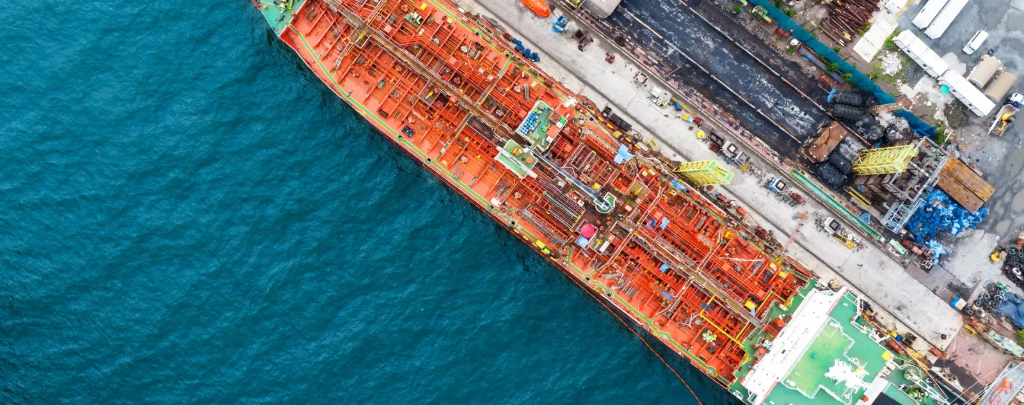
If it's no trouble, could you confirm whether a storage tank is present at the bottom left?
No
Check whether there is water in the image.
Yes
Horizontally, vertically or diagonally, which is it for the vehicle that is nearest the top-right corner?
diagonally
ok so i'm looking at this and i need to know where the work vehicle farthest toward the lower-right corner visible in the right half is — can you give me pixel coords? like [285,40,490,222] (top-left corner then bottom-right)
[991,248,1008,263]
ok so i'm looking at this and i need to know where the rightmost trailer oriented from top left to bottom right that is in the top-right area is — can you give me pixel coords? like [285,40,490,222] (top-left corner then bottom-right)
[940,71,995,117]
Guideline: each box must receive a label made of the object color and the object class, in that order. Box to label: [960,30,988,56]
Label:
white vehicle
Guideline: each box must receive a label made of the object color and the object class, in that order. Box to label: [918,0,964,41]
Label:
white trailer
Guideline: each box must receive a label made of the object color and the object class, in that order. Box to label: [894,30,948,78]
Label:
white trailer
